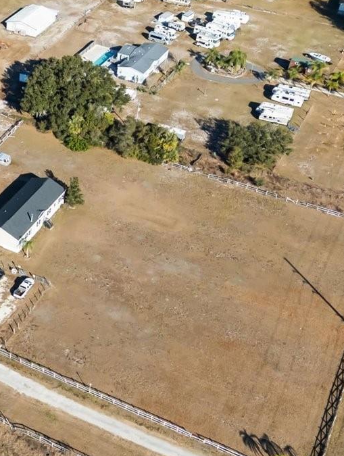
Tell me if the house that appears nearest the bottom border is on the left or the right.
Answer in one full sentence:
The house that appears nearest the bottom border is on the left side of the image.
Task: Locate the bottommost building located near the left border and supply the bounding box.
[0,176,64,252]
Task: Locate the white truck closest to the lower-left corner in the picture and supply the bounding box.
[11,278,37,301]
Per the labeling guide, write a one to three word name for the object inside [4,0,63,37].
building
